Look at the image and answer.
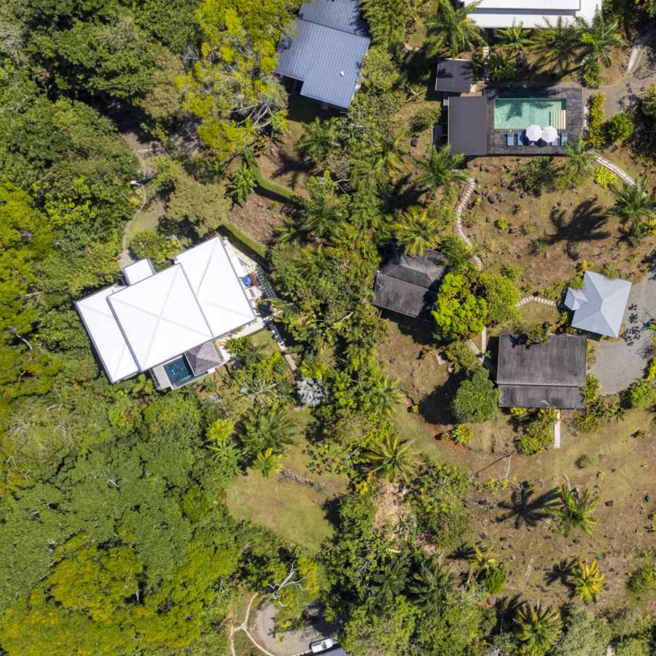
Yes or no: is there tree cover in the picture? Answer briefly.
Yes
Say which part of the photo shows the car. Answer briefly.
bottom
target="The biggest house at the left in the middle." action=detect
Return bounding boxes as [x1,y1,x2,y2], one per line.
[75,236,256,384]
